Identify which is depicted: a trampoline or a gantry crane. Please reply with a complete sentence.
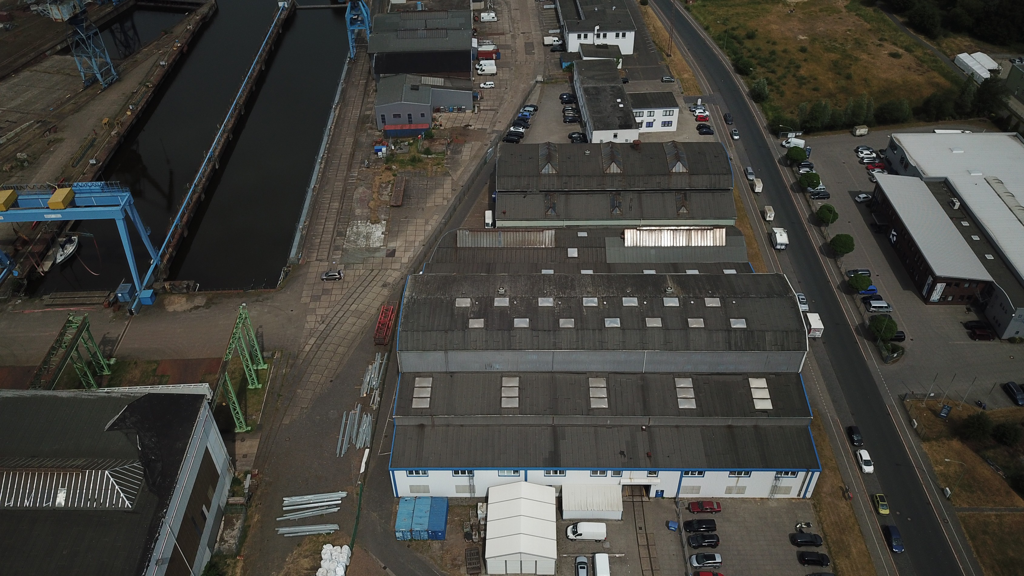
The image shows a gantry crane.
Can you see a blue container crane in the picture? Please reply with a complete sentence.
Yes, a blue container crane appears in the view.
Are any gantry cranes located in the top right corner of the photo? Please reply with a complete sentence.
No, I can find no gantry crane in the top right corner of the photo.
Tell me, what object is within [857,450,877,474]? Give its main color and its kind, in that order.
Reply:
white car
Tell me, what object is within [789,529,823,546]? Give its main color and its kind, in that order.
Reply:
black car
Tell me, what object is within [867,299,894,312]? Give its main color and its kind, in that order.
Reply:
gray vehicle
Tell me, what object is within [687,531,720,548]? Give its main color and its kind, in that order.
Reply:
black car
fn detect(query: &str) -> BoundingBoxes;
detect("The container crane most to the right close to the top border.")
[344,0,383,62]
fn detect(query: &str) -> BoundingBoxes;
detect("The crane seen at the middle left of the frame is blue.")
[0,175,163,298]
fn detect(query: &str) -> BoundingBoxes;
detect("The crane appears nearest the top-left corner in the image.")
[32,0,117,90]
